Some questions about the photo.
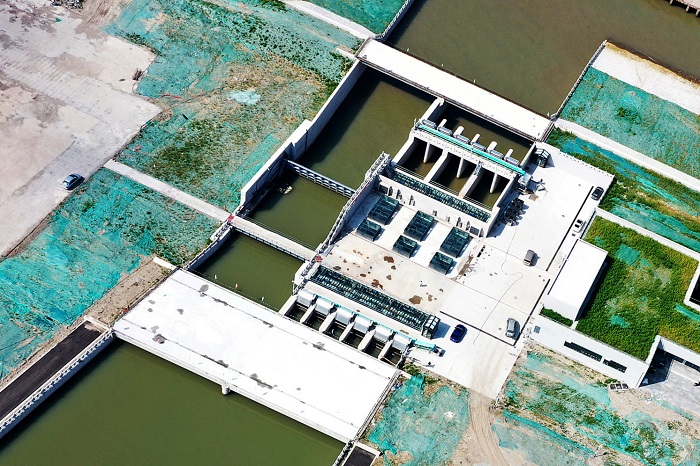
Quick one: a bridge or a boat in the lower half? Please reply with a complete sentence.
Looking in the lower half, you will find a bridge.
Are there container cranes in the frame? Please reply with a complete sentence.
No, the picture doesn't show any container crane.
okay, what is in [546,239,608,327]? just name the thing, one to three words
building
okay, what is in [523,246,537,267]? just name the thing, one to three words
car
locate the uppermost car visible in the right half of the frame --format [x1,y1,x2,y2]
[590,184,605,201]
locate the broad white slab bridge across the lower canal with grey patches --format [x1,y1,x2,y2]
[114,269,399,444]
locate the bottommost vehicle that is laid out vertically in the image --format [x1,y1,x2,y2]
[506,316,518,338]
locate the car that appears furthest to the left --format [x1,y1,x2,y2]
[62,174,83,187]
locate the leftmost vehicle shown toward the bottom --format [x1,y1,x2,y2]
[450,323,466,342]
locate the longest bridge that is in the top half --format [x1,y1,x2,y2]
[358,36,553,145]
